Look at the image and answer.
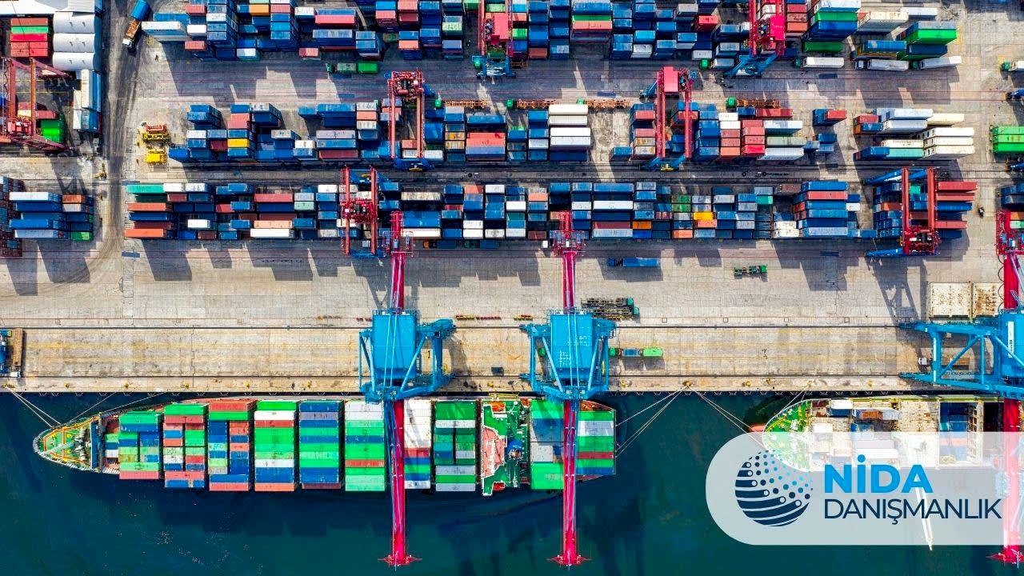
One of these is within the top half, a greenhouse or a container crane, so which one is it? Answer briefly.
container crane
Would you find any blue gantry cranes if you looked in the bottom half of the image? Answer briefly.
Yes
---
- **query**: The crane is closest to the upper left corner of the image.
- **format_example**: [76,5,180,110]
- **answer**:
[4,56,77,148]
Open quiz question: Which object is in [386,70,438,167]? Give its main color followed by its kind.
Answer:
red container crane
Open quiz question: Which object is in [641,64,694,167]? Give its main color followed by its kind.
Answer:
red container crane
